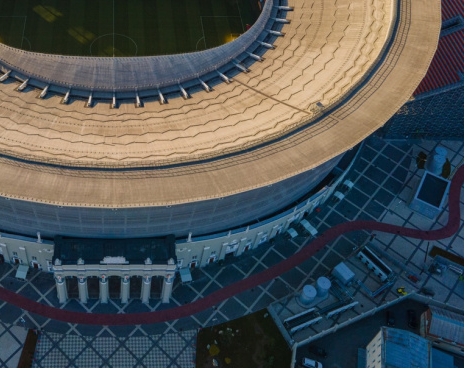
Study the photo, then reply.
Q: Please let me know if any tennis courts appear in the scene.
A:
No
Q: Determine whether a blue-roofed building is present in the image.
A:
Yes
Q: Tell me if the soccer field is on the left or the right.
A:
left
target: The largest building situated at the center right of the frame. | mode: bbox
[410,169,451,218]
